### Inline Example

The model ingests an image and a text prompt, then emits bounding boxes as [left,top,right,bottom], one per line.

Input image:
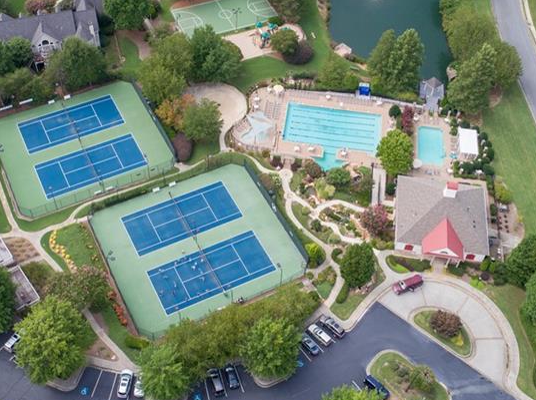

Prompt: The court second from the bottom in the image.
[121,180,244,256]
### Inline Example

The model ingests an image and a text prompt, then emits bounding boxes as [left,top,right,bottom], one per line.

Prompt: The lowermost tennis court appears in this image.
[147,230,276,315]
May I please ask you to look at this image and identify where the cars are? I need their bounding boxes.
[395,274,422,292]
[307,322,332,345]
[208,365,226,397]
[0,327,20,353]
[134,369,146,396]
[320,312,346,337]
[116,369,131,396]
[364,372,392,397]
[299,331,322,355]
[225,363,241,390]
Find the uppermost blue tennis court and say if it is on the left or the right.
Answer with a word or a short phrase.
left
